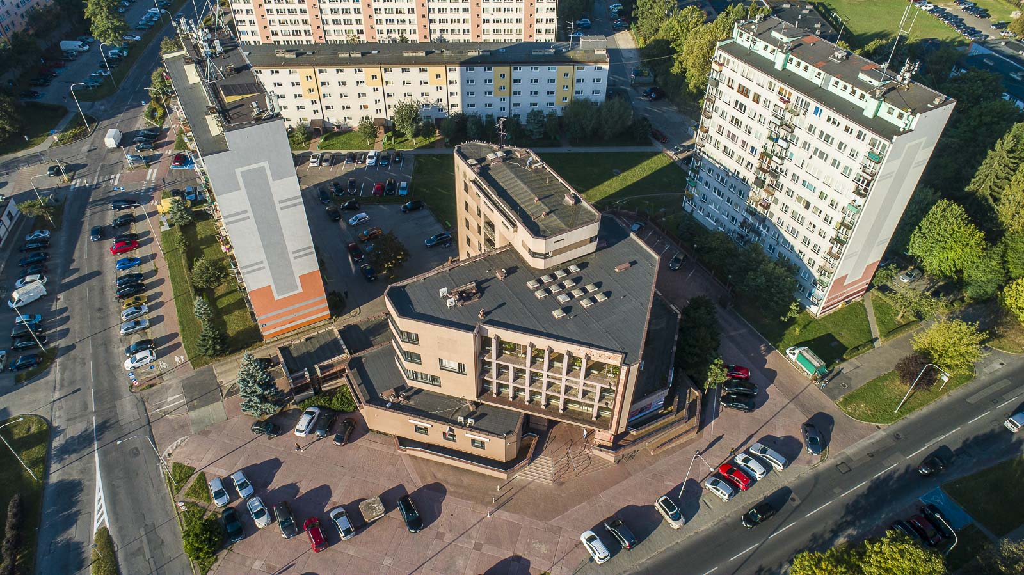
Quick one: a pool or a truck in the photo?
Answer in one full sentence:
The image shows a truck.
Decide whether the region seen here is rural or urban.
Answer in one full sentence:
The area shown here is urban.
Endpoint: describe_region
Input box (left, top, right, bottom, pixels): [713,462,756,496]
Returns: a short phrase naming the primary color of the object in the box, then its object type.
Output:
red car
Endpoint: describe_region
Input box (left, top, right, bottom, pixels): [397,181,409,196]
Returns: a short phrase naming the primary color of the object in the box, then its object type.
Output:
blue vehicle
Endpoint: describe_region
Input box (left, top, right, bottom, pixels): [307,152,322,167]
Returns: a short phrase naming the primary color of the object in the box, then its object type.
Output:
white car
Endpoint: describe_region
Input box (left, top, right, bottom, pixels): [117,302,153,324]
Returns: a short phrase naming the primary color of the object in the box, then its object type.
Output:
gray car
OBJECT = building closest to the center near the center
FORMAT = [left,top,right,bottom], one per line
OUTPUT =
[337,107,678,463]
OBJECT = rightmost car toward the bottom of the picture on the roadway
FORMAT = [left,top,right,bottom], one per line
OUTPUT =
[1003,409,1024,433]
